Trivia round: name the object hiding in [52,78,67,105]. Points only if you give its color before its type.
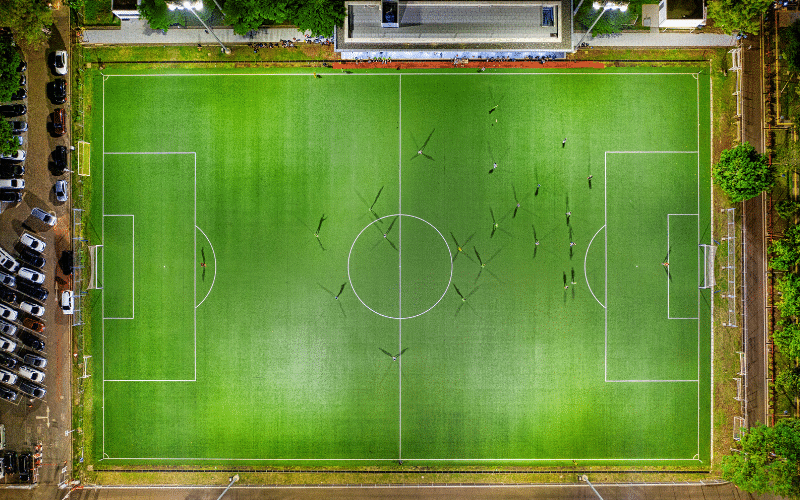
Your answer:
black car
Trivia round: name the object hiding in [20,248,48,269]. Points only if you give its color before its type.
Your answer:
black car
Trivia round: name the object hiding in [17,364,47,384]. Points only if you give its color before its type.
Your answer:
white car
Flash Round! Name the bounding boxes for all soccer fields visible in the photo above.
[93,66,711,466]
